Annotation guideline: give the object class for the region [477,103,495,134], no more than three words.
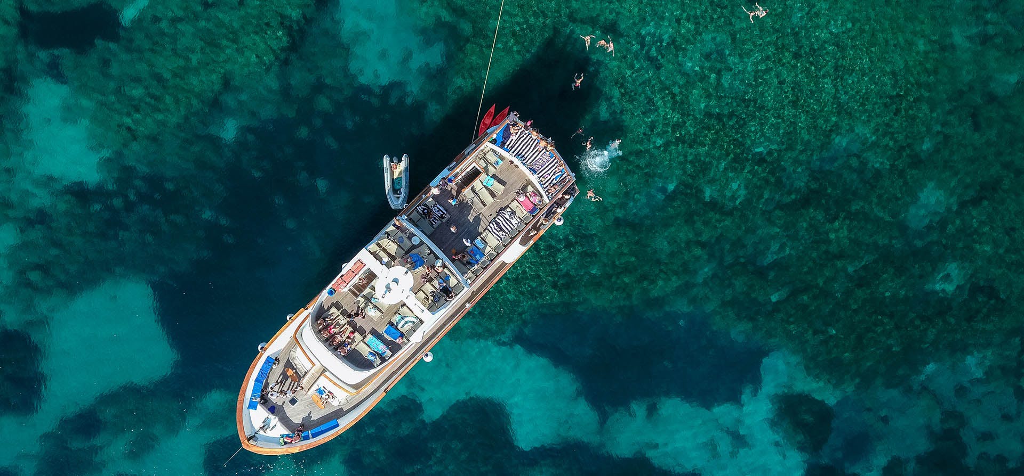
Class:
boat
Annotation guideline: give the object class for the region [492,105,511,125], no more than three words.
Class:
boat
